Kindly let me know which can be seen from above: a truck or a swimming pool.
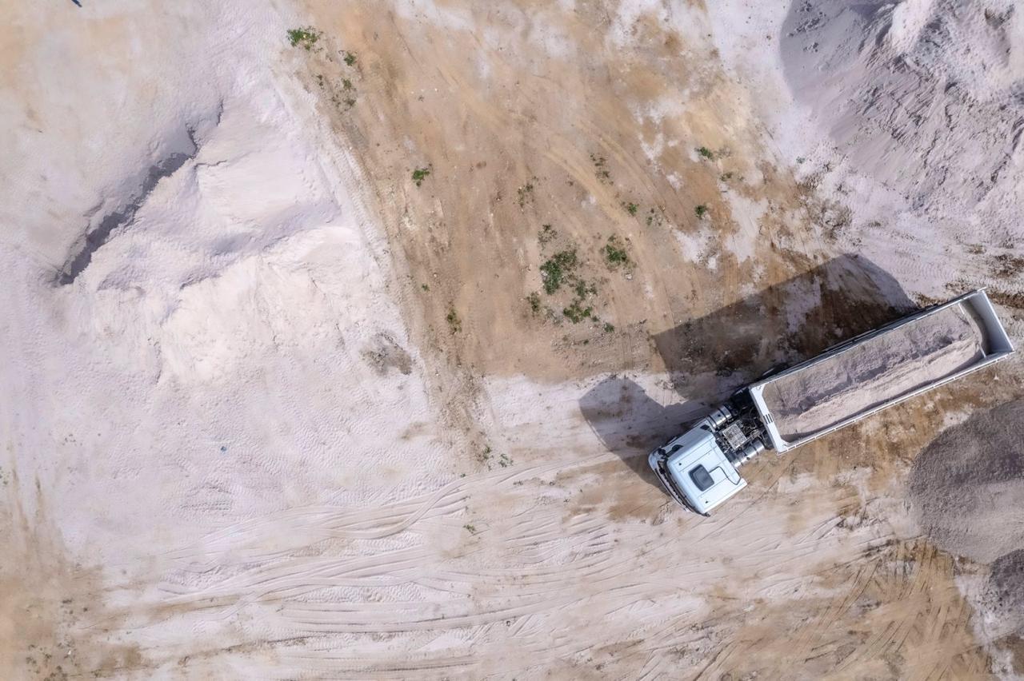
truck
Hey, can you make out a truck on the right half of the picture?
Yes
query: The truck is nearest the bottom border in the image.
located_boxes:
[649,377,761,522]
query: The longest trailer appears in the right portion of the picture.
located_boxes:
[735,284,1019,456]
